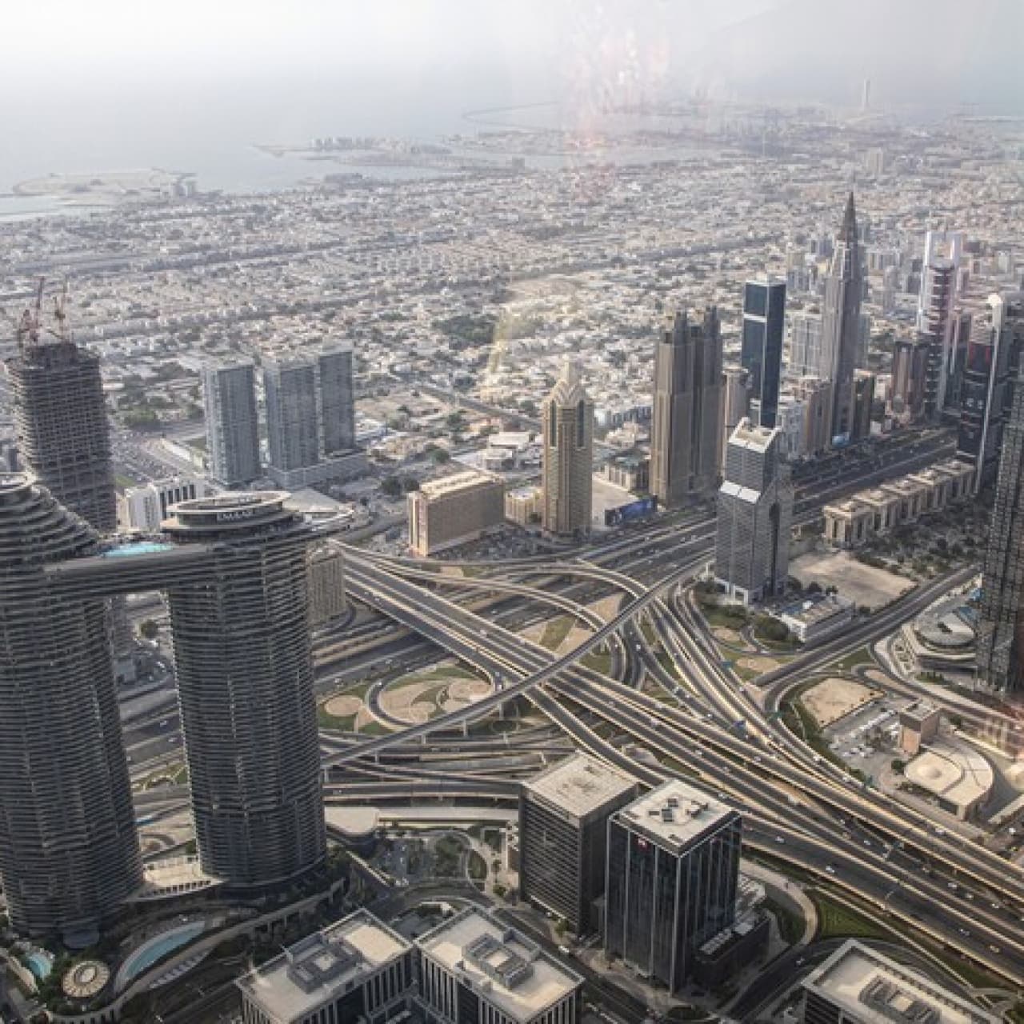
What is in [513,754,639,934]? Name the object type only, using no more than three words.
building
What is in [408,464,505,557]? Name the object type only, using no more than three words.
building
